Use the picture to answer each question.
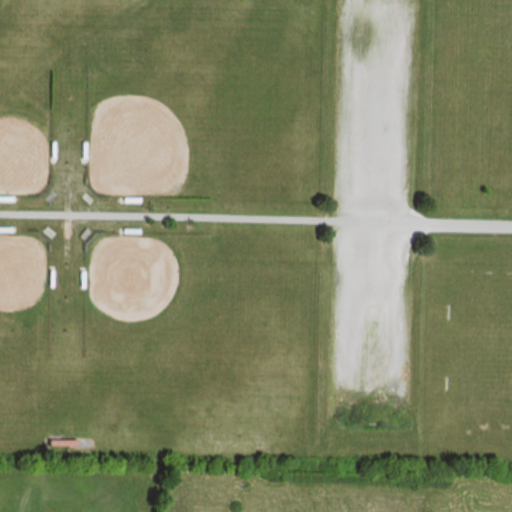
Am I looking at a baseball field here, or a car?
baseball field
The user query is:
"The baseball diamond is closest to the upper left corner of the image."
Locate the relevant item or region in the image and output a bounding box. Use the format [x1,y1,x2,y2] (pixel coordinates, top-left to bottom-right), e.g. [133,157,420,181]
[0,76,52,198]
